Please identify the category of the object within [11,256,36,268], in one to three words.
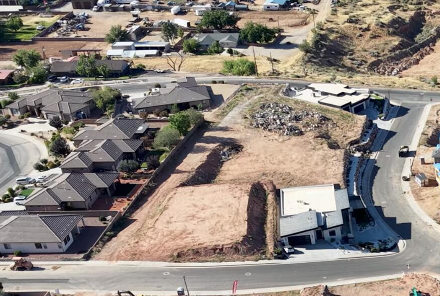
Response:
vehicle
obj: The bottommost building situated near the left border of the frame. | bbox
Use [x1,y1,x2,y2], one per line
[0,211,92,252]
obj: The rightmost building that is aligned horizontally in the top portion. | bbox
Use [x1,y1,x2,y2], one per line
[306,84,371,115]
